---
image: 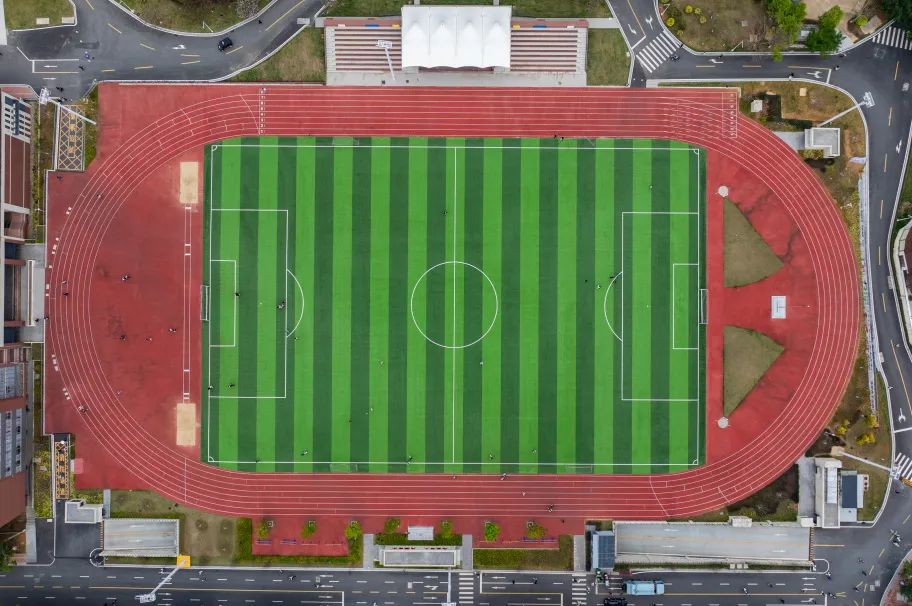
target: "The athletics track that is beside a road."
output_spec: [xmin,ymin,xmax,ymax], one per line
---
[45,84,862,556]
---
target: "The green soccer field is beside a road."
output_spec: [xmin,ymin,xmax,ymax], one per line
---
[202,135,707,475]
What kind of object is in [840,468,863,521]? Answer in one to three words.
shed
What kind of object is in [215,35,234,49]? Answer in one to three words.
car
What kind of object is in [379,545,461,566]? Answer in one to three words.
building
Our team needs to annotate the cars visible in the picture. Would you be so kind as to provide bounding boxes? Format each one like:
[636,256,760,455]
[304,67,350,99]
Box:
[605,598,628,606]
[215,35,234,49]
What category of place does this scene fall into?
sports ground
